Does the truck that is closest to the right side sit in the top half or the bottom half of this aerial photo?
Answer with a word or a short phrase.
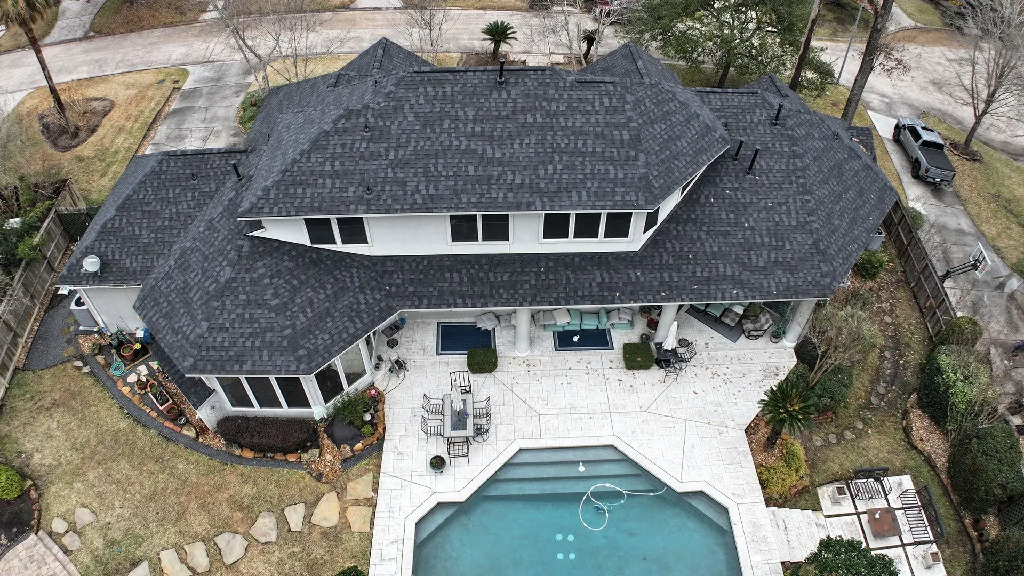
top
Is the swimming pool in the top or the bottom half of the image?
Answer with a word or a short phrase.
bottom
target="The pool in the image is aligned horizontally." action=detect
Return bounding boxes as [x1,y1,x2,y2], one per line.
[402,436,756,576]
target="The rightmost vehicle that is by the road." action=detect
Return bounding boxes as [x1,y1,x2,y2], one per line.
[897,116,969,186]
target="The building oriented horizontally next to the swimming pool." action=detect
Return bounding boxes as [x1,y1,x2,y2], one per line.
[55,36,900,430]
